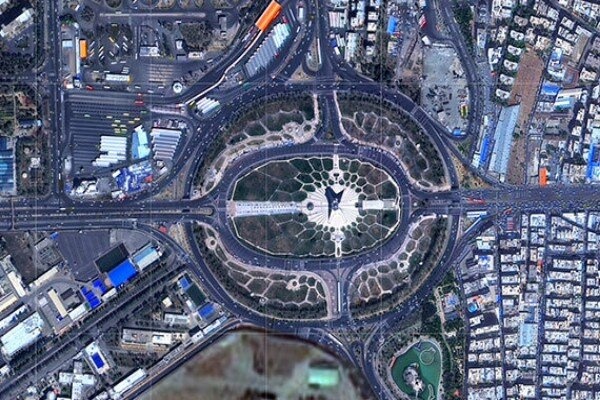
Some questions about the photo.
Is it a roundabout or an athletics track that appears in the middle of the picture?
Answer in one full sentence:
It is a roundabout that can be seen in the middle of the picture.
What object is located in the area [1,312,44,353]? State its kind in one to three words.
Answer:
building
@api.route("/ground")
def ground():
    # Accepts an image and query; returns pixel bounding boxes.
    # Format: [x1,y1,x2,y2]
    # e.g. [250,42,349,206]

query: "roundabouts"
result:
[218,142,415,271]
